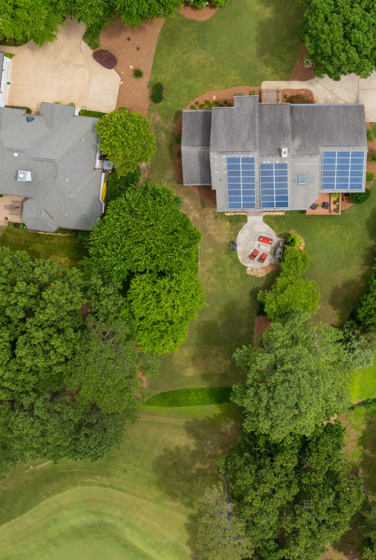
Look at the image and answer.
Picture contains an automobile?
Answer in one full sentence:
No, there isn't any automobile down there.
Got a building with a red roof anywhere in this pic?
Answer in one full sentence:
No, no building with a red roof is visible in the view.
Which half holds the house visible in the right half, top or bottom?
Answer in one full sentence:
The house visible in the right half is in the top half of the image.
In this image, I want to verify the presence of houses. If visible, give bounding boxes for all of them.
[0,51,105,233]
[181,95,367,213]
